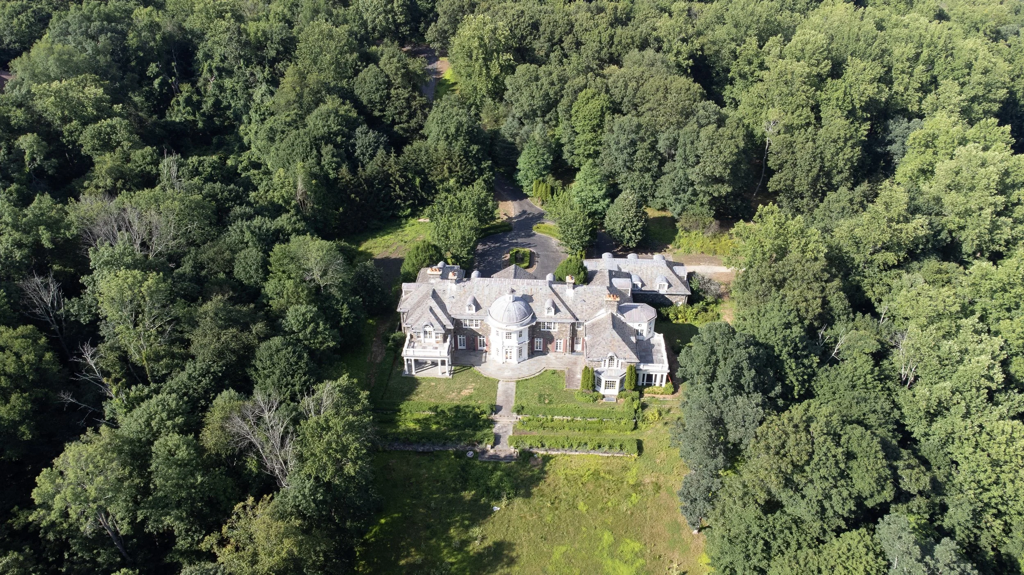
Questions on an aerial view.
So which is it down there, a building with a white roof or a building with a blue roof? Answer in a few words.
building with a white roof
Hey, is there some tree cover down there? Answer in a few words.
Yes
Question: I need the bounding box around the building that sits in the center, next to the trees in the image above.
[395,248,692,401]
